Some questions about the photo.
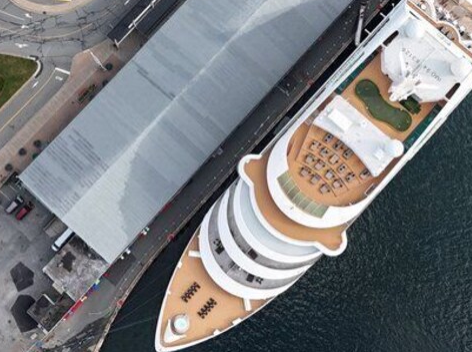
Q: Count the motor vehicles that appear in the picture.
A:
3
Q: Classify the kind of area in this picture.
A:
port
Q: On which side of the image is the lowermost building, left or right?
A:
left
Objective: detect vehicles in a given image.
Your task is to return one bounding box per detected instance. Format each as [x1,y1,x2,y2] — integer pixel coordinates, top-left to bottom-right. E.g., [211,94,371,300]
[47,225,77,252]
[4,195,24,216]
[15,200,35,221]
